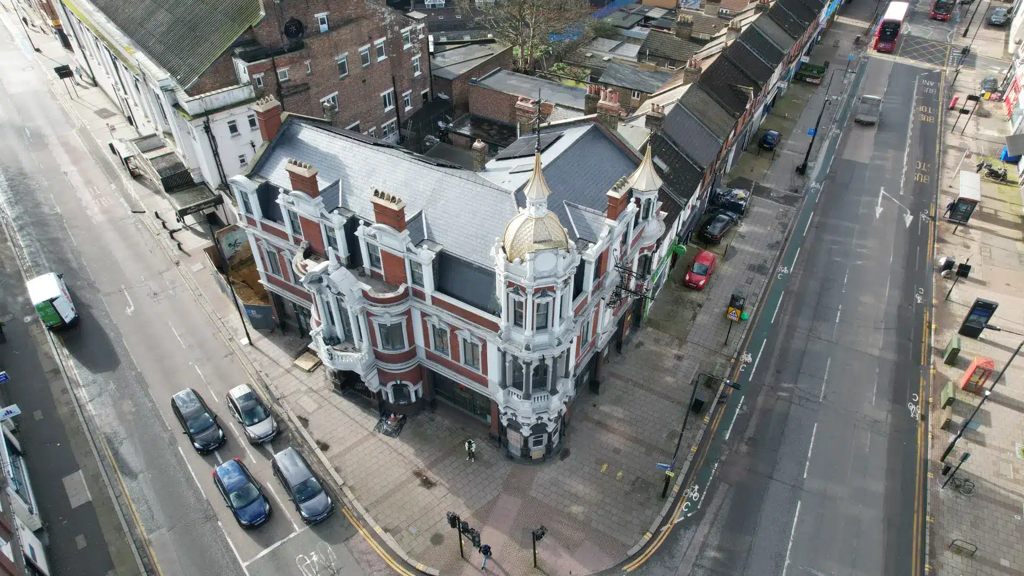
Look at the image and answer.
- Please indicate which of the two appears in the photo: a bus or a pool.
bus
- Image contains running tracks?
No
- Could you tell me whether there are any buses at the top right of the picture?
Yes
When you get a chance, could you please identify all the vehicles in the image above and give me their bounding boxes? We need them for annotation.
[685,247,718,287]
[166,385,229,461]
[206,452,274,536]
[982,158,1009,176]
[874,4,908,51]
[699,209,740,244]
[981,71,1005,93]
[32,277,93,341]
[222,382,283,451]
[928,0,953,20]
[852,91,886,131]
[266,447,337,530]
[758,130,784,152]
